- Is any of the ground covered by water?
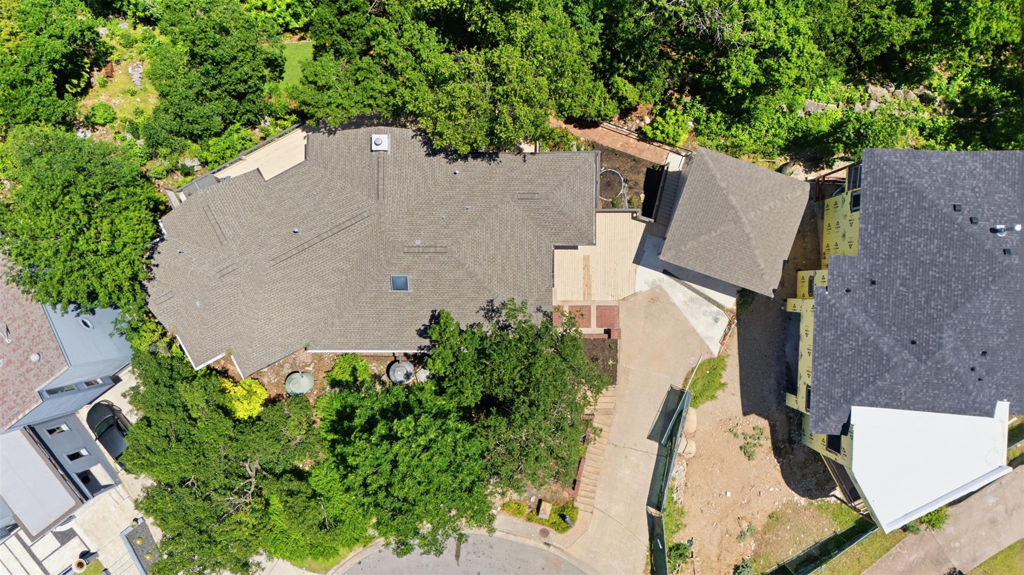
No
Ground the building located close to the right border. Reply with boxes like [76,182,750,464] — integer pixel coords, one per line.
[787,147,1024,536]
